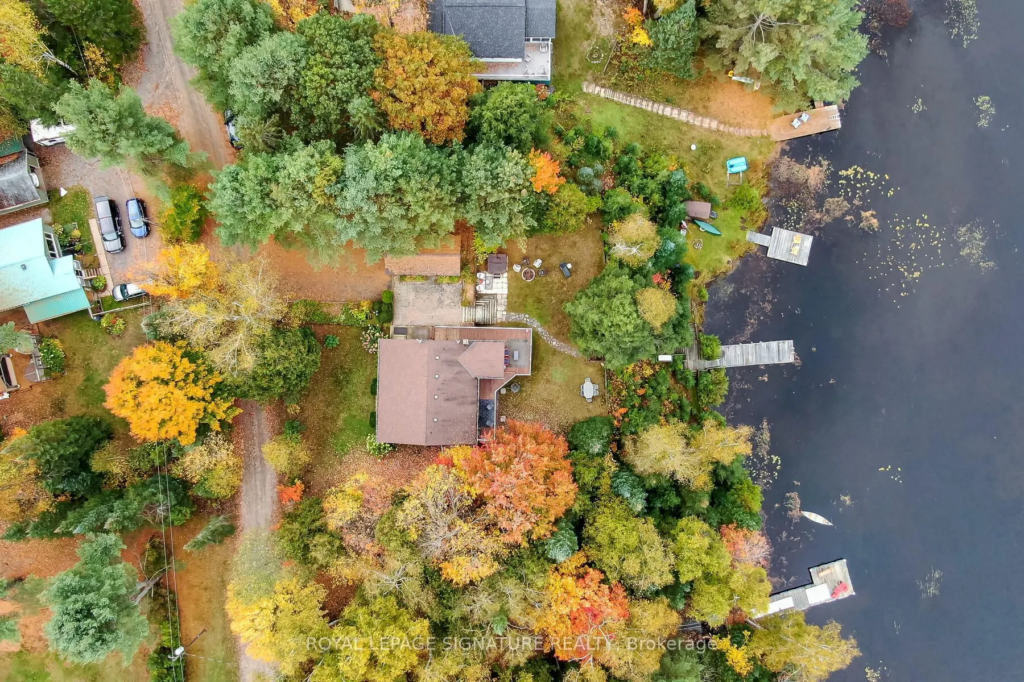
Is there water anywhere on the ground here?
Yes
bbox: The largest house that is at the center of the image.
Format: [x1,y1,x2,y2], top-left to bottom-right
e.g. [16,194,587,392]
[375,326,532,446]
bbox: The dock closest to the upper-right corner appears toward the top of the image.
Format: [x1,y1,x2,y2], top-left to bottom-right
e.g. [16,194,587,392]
[769,96,841,142]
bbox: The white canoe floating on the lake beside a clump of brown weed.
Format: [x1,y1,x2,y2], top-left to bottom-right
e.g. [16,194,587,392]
[800,510,833,526]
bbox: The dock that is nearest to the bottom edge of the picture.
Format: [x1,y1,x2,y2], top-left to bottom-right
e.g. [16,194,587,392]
[750,558,856,621]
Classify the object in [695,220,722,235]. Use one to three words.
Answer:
boat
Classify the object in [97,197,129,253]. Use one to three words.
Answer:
truck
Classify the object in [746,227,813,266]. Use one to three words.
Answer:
pier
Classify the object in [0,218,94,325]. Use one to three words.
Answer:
house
